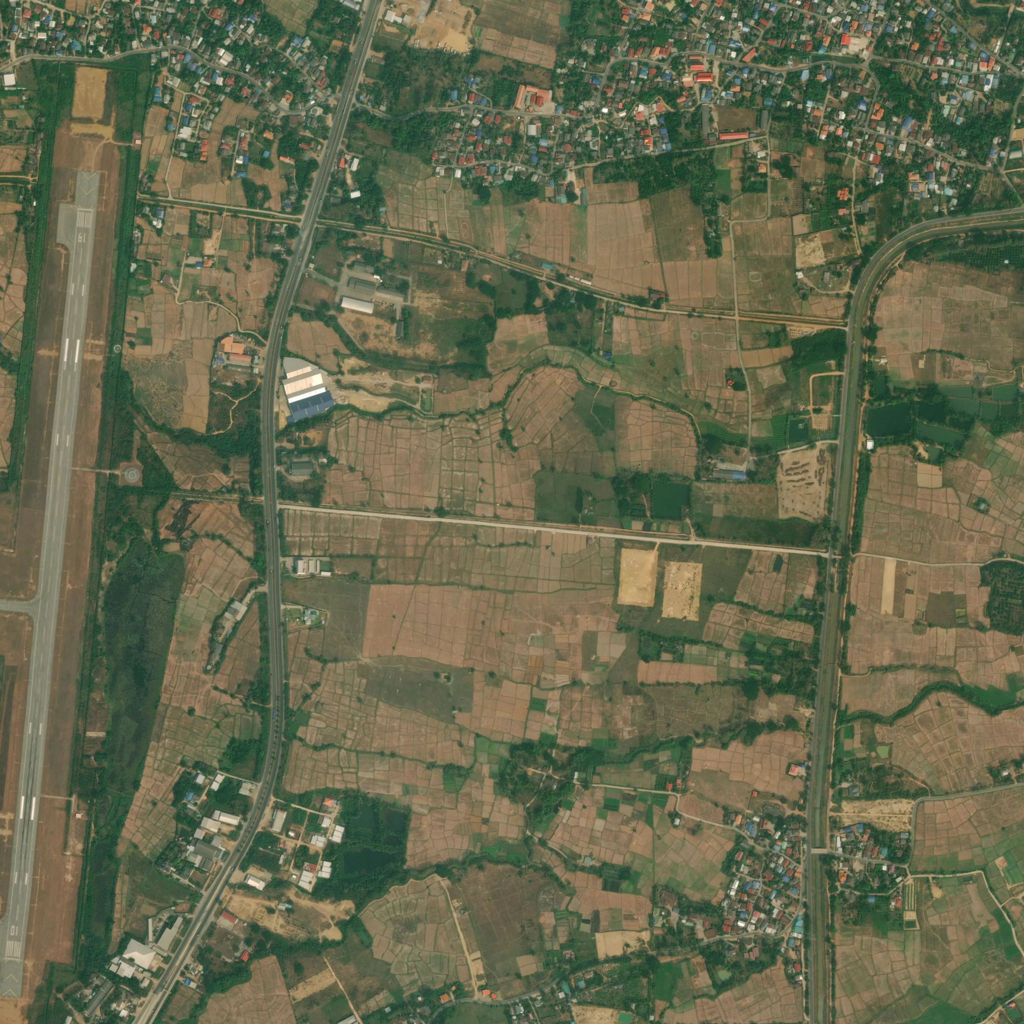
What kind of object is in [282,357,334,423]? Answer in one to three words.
building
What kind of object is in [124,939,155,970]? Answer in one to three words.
building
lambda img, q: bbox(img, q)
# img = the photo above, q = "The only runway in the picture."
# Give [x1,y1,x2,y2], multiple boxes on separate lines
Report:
[0,171,100,997]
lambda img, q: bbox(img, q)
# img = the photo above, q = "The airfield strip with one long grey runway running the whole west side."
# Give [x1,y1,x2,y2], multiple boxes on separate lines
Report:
[0,171,100,997]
